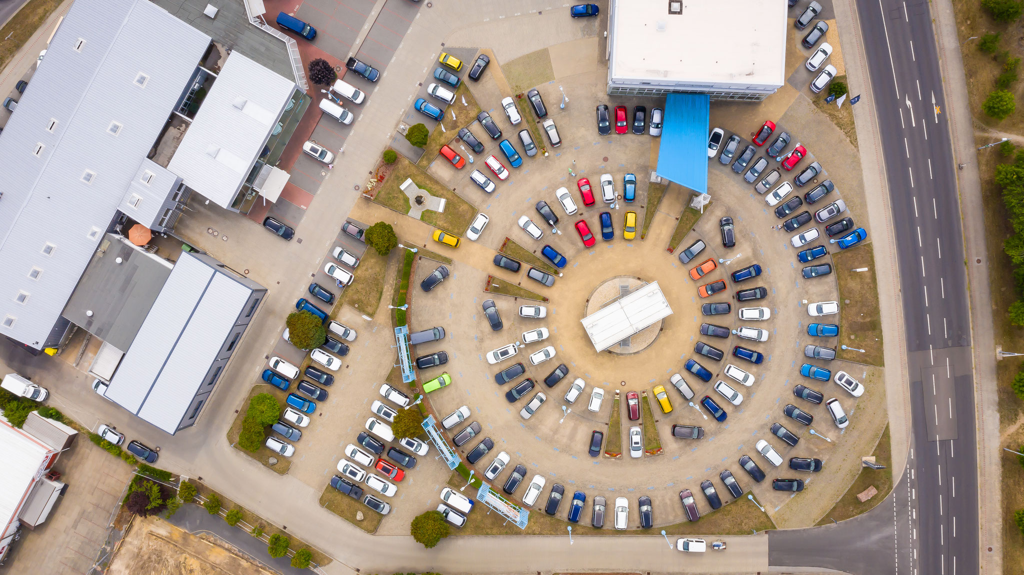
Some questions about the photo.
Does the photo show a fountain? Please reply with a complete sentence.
Yes, the image includes a fountain.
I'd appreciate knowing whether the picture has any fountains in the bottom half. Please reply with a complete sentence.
No, looking in the bottom half, there is no fountain.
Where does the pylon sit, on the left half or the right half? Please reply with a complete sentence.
The pylon is on the right side of the image.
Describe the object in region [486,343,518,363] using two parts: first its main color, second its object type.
white car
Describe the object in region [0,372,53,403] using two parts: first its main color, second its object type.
white truck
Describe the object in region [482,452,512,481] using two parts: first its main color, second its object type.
white car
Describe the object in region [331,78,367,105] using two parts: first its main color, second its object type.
white vehicle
